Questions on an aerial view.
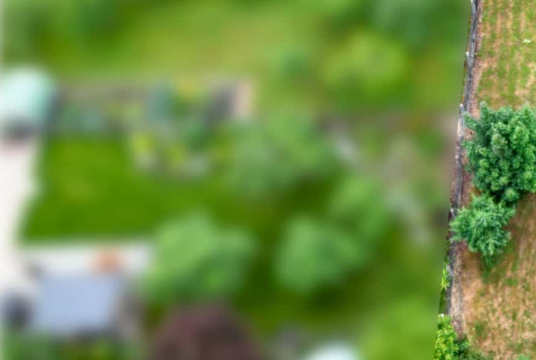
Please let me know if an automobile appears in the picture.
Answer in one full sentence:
No, no automobile is visible in the view.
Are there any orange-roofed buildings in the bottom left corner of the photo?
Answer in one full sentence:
No, no orange-roofed building appears in the bottom left corner of the photo.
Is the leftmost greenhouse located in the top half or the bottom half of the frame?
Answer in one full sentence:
It is in the top half that the leftmost greenhouse appears.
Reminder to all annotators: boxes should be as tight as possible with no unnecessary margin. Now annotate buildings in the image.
[32,276,139,342]
[0,77,65,140]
